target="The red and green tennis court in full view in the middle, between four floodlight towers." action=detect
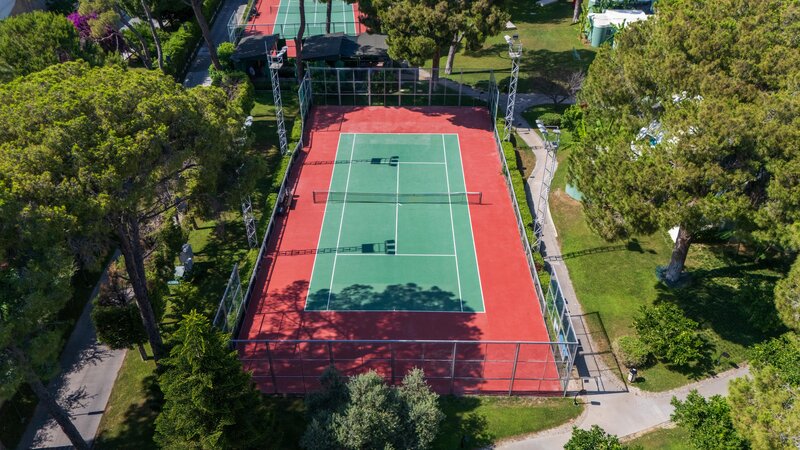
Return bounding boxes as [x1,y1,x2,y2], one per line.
[233,106,561,391]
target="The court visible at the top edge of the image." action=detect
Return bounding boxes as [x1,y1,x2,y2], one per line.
[236,0,383,55]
